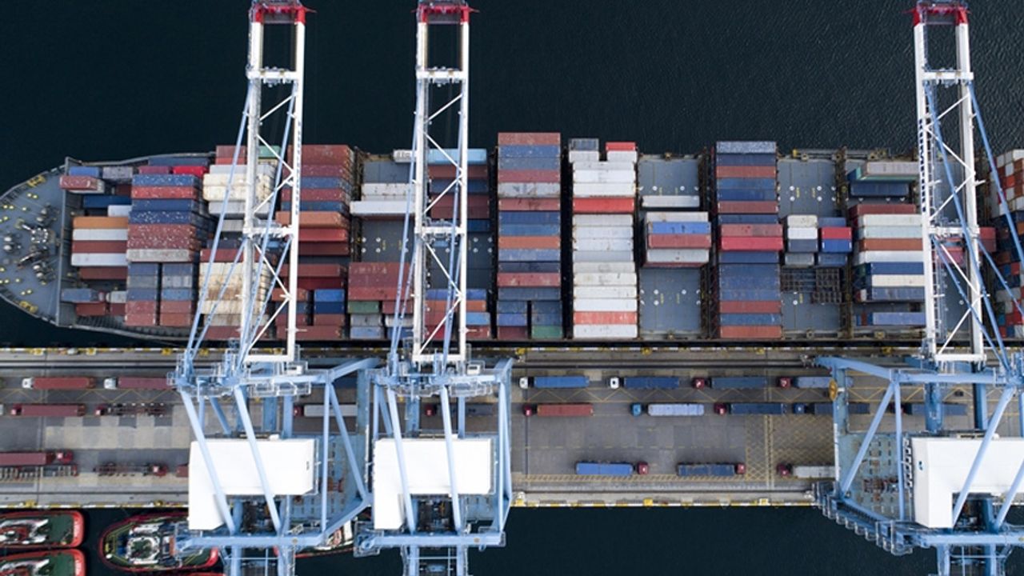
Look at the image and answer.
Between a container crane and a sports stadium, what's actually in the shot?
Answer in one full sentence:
The one in the frame is a container crane.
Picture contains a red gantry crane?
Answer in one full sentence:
No, no red gantry crane can be seen from above.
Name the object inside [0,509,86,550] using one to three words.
boat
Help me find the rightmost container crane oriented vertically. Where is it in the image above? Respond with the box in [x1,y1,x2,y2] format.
[799,0,1024,576]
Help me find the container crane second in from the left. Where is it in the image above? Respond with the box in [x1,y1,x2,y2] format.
[344,0,533,576]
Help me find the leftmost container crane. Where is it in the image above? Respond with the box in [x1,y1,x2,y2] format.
[162,0,397,576]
